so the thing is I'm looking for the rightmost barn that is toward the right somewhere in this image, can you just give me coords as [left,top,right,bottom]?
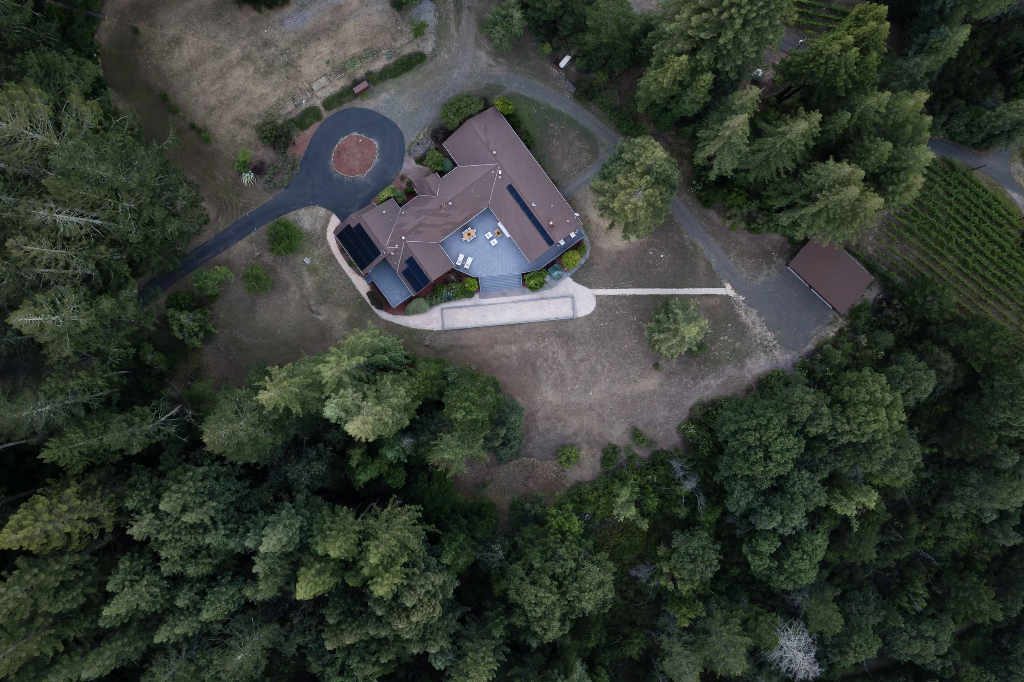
[785,241,874,325]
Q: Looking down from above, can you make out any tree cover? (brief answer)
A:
Yes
